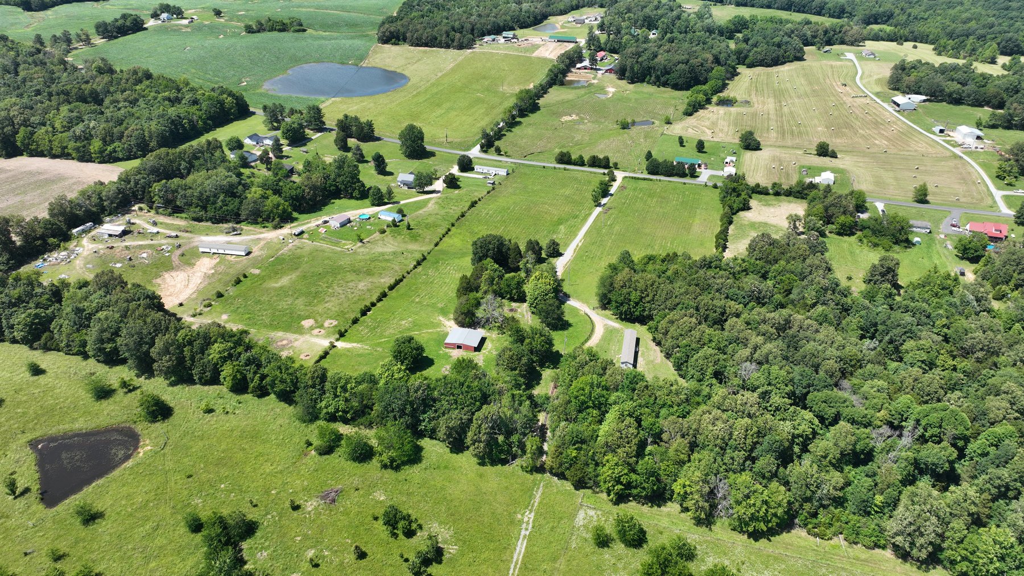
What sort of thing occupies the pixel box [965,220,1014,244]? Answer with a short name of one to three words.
house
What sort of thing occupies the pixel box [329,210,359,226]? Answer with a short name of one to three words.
building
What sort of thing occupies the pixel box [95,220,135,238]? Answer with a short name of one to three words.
shed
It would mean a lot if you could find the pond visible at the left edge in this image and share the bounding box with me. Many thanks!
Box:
[29,426,141,509]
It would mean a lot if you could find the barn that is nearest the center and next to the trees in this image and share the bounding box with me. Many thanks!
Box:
[442,324,483,352]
